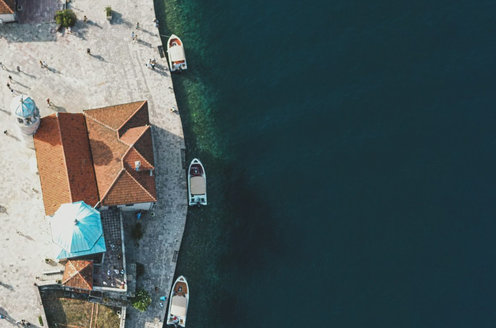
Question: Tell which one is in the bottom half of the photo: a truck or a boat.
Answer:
boat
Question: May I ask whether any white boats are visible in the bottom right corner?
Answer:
No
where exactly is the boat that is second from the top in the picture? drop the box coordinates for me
[188,158,207,208]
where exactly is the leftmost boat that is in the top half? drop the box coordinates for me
[167,33,187,74]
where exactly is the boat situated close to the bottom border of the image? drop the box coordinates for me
[168,276,190,328]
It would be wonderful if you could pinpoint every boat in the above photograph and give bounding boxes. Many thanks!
[188,158,207,208]
[168,276,190,328]
[167,33,187,74]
